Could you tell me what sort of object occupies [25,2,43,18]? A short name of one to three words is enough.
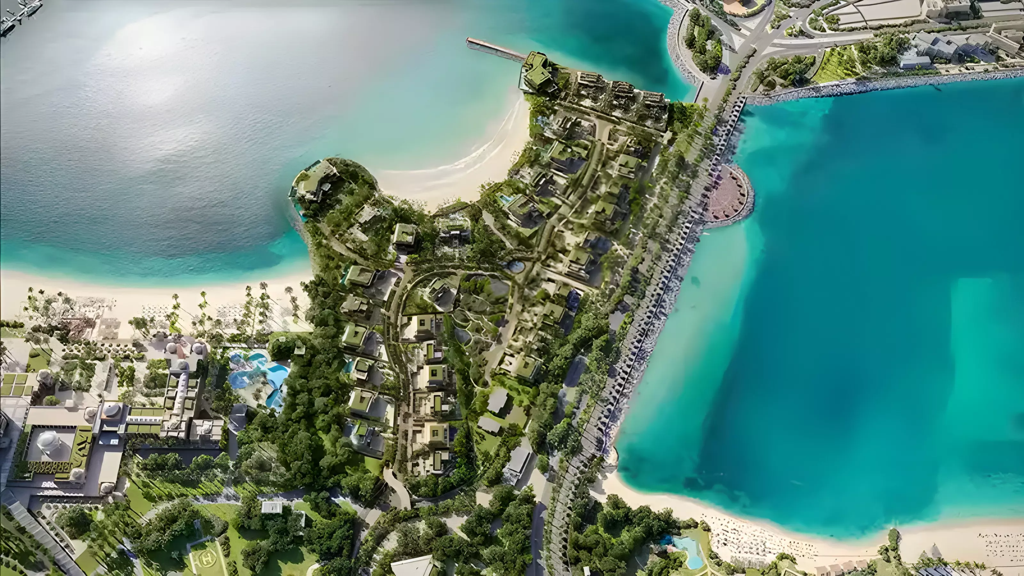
boat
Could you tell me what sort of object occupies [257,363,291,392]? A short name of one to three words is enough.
swimming pool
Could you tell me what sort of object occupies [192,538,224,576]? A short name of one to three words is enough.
helipad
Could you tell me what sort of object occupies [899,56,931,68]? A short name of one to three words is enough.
building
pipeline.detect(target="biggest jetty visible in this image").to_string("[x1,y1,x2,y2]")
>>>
[468,37,525,64]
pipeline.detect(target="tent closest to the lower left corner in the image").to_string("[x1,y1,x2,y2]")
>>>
[37,432,60,452]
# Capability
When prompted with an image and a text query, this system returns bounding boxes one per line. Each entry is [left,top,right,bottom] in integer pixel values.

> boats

[0,23,16,39]
[25,2,43,18]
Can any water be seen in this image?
Yes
